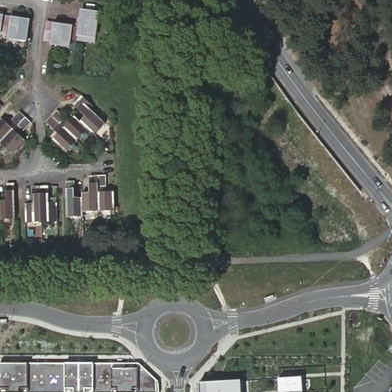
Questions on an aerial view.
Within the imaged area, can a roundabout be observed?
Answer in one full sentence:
Yes, the frame does contain a roundabout.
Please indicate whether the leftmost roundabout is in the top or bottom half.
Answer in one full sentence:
It is in the bottom half that the leftmost roundabout appears.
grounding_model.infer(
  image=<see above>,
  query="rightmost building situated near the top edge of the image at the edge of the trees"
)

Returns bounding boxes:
[72,8,98,44]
